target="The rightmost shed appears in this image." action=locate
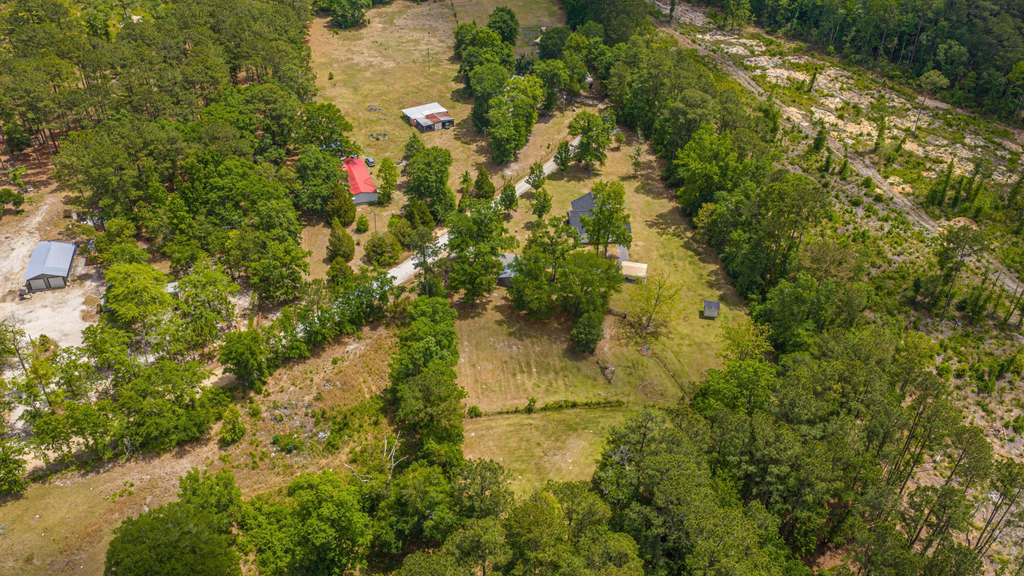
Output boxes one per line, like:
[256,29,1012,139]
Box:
[702,299,721,318]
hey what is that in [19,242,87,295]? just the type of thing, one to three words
building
